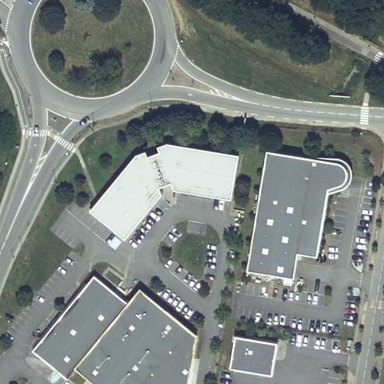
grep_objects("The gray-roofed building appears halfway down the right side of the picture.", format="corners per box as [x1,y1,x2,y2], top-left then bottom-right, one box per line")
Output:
[247,153,353,286]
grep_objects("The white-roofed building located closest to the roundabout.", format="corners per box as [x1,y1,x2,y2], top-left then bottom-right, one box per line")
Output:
[90,144,238,240]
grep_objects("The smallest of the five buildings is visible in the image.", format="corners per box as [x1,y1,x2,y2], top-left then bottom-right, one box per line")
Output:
[228,338,278,378]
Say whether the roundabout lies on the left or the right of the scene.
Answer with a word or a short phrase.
left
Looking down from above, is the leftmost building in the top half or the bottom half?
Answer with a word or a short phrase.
bottom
